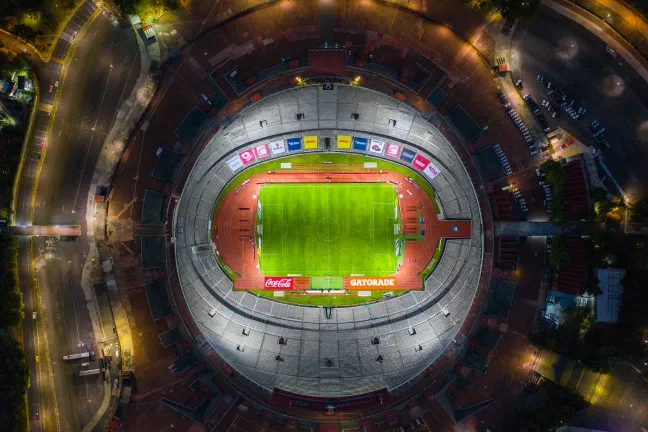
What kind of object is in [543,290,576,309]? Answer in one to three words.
building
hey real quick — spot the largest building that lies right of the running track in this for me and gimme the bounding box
[592,268,625,323]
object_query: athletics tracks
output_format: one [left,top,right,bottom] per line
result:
[214,173,465,291]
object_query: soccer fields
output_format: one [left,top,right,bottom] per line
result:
[256,182,401,276]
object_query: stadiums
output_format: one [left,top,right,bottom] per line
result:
[165,67,494,421]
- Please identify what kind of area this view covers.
sports ground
